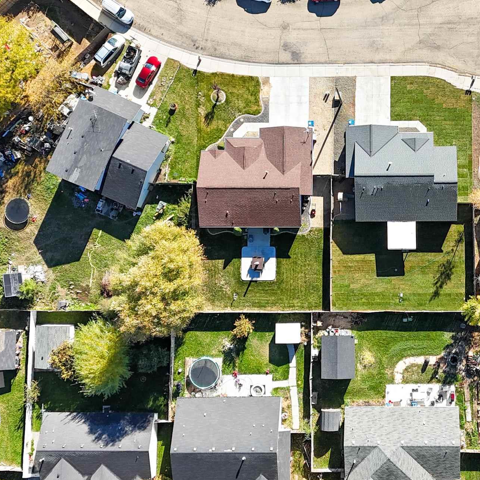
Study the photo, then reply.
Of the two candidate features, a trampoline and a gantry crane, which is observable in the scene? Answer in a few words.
trampoline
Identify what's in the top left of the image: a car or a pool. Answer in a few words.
car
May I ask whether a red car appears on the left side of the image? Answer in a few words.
Yes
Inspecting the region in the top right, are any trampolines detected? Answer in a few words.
No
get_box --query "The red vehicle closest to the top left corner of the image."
[135,57,162,90]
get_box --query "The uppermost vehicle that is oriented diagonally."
[99,0,136,27]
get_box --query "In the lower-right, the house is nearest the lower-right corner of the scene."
[337,404,460,480]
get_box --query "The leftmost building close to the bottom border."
[36,410,159,480]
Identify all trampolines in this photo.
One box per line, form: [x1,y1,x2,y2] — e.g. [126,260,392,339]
[186,356,221,391]
[6,198,32,222]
